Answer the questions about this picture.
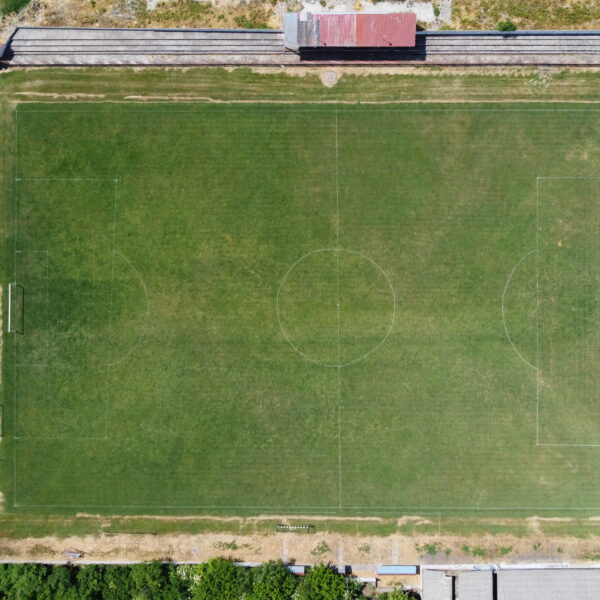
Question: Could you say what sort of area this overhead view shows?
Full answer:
The area seen from above is a sports ground.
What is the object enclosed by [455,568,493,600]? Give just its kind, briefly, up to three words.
shed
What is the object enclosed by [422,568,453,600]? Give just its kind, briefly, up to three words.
shed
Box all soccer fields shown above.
[13,103,600,534]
